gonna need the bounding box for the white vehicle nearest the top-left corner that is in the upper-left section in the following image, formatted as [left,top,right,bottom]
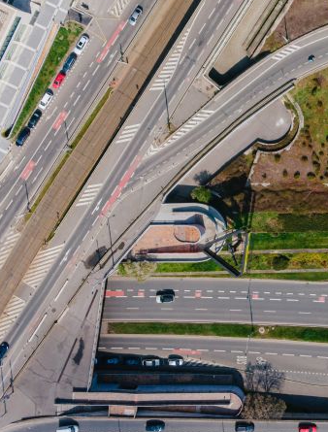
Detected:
[74,33,89,54]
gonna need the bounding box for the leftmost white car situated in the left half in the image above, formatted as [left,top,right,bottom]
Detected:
[38,89,54,109]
